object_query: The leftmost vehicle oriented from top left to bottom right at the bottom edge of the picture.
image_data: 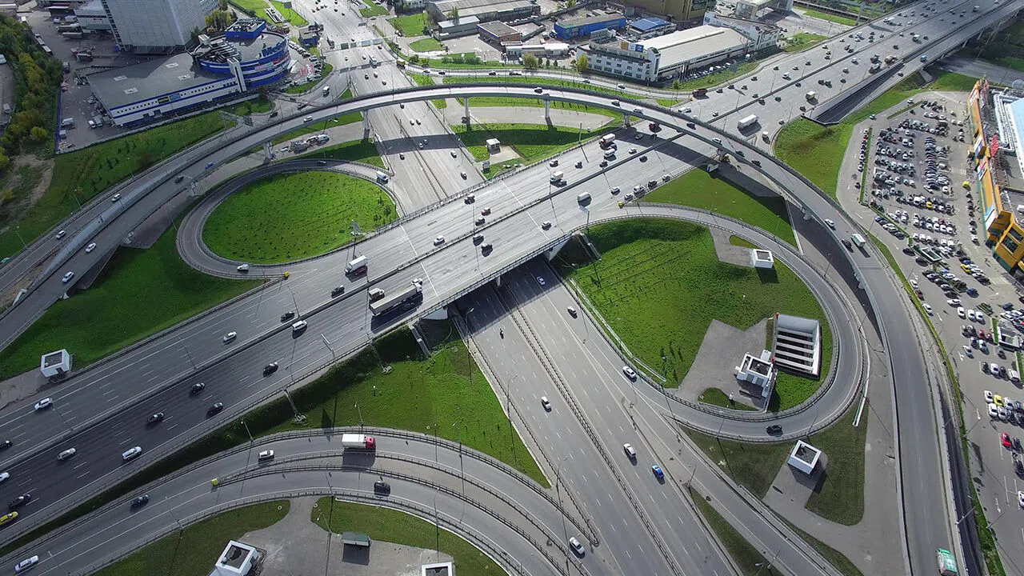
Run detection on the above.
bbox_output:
[569,538,585,555]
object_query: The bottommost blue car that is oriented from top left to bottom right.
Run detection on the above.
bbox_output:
[651,465,664,480]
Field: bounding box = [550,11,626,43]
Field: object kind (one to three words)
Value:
building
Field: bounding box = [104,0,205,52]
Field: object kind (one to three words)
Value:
building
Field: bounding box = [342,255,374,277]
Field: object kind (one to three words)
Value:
truck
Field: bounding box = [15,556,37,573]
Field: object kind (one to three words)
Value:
car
